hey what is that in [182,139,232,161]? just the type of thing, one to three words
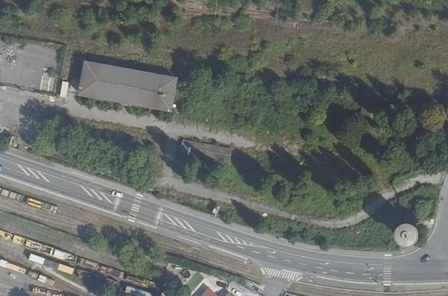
shed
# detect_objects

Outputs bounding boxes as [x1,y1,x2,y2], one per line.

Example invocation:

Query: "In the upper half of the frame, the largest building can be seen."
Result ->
[77,60,177,111]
